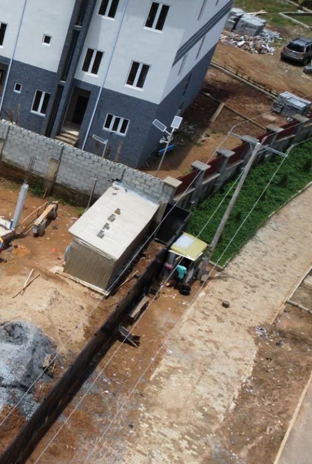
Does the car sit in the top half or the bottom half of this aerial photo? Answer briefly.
top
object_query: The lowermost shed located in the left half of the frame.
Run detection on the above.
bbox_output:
[63,185,158,295]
